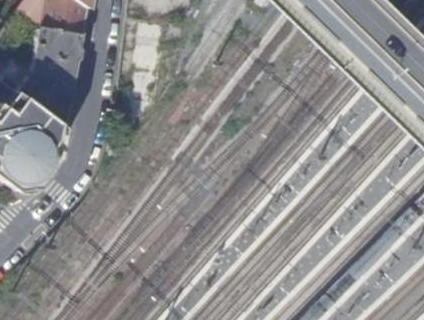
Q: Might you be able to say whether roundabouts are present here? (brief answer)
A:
No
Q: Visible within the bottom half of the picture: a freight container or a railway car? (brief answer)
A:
railway car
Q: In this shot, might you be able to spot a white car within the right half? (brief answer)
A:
No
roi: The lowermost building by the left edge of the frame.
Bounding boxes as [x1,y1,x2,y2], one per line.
[0,98,75,196]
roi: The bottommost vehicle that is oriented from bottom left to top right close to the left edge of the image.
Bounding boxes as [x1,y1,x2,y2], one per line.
[4,250,24,271]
